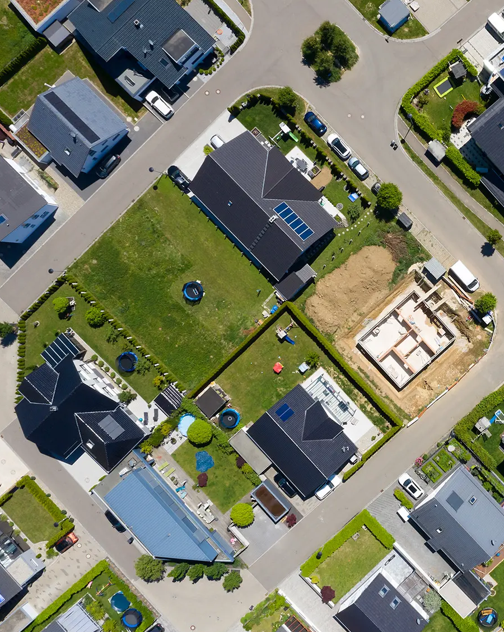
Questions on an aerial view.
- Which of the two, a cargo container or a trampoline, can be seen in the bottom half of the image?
trampoline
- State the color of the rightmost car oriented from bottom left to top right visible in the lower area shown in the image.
white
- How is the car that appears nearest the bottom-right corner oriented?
on a diagonal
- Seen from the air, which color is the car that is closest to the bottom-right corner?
white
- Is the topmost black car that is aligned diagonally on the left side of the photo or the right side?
left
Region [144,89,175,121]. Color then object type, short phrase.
white car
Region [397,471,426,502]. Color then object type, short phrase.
white car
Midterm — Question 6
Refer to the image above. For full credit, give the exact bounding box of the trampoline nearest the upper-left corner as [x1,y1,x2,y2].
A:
[182,281,203,302]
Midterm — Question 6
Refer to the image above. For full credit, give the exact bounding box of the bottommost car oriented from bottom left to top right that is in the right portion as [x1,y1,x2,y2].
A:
[313,473,343,499]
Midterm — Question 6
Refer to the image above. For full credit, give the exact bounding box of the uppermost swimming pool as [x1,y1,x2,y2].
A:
[176,415,196,436]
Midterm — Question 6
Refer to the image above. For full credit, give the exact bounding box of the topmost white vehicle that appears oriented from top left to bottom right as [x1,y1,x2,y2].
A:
[485,8,504,39]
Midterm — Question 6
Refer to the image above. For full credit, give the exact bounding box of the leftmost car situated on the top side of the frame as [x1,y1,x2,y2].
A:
[96,152,124,180]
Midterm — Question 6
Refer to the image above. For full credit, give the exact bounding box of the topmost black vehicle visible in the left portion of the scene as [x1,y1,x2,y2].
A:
[158,83,182,105]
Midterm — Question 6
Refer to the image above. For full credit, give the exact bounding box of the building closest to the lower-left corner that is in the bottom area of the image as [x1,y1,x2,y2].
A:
[0,595,45,632]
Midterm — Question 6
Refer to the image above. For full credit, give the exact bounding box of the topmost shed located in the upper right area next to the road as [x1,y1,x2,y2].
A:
[379,0,411,31]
